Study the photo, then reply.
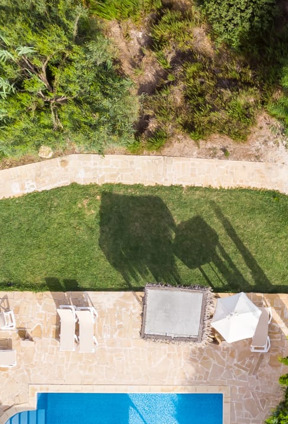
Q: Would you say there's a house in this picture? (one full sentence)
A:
No, the photo shows no house.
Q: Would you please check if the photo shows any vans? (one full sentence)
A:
No, the scene contains no van.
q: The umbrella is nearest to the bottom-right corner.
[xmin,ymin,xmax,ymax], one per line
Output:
[215,292,266,344]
